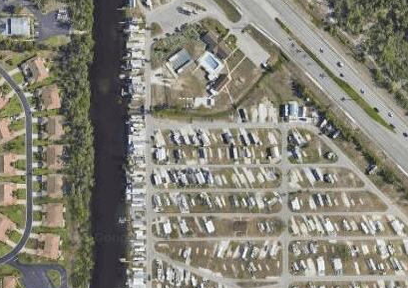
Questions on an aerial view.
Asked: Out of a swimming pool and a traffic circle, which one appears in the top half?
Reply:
swimming pool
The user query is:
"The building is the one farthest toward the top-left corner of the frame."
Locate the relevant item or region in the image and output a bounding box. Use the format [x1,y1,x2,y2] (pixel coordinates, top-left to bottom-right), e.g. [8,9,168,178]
[0,18,30,37]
